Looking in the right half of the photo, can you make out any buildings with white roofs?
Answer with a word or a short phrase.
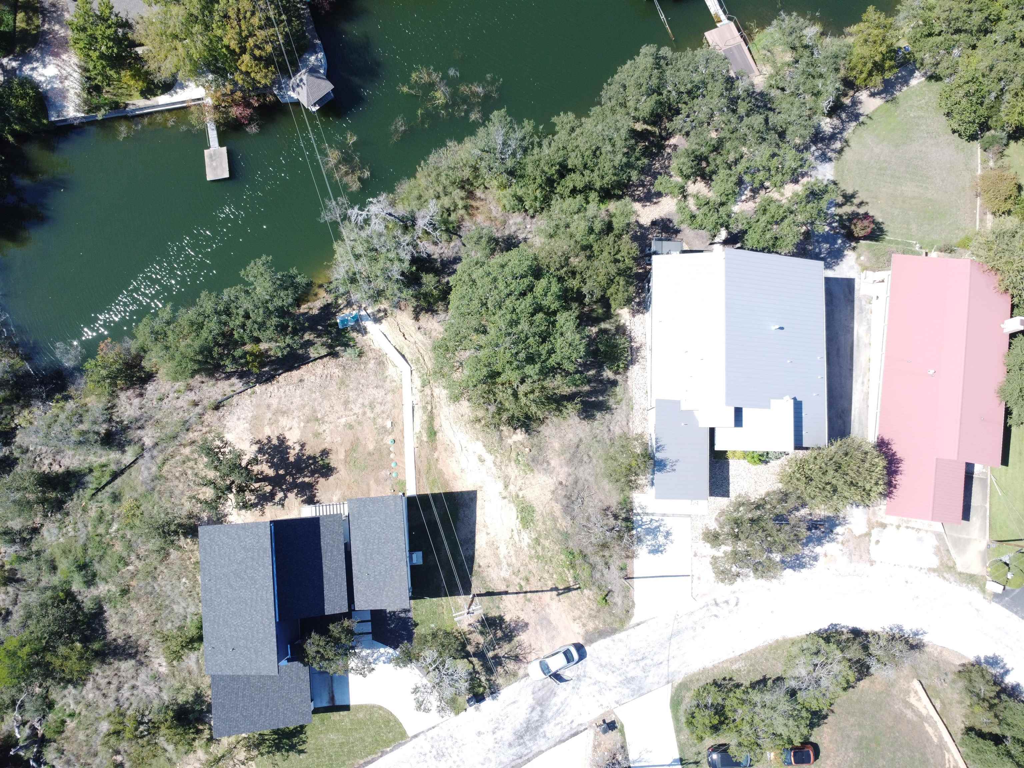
Yes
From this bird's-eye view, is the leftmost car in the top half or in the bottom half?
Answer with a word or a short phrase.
bottom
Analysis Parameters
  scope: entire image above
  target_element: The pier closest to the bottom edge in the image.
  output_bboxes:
[204,146,232,183]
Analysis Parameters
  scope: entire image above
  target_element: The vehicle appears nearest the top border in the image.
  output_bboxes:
[526,644,583,690]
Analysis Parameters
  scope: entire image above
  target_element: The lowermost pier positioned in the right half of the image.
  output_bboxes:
[702,17,761,84]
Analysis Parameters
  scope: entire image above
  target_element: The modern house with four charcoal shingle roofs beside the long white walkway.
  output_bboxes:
[198,495,411,738]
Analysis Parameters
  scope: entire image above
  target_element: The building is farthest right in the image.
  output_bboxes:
[865,254,1024,525]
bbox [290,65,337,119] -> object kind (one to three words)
gazebo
